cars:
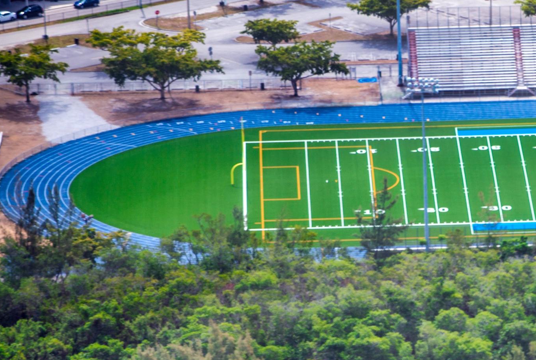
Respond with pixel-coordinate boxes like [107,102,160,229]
[0,12,16,21]
[17,4,43,17]
[73,0,100,7]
